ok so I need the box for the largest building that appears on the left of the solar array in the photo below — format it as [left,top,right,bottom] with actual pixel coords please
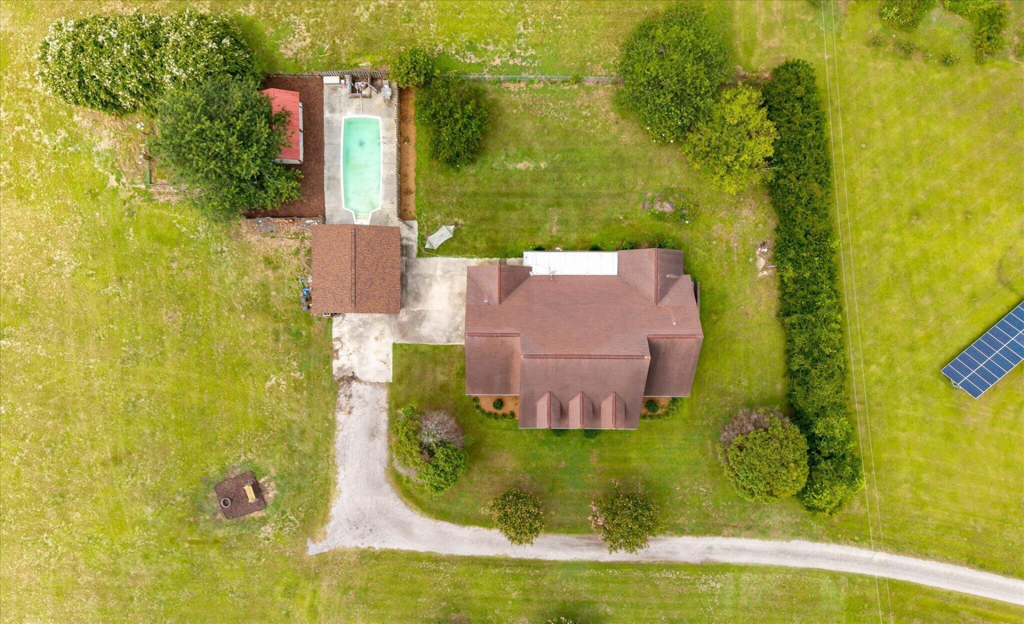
[464,248,701,430]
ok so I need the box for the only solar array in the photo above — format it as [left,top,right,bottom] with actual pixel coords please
[941,297,1024,398]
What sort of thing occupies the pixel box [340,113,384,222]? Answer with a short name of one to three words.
swimming pool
